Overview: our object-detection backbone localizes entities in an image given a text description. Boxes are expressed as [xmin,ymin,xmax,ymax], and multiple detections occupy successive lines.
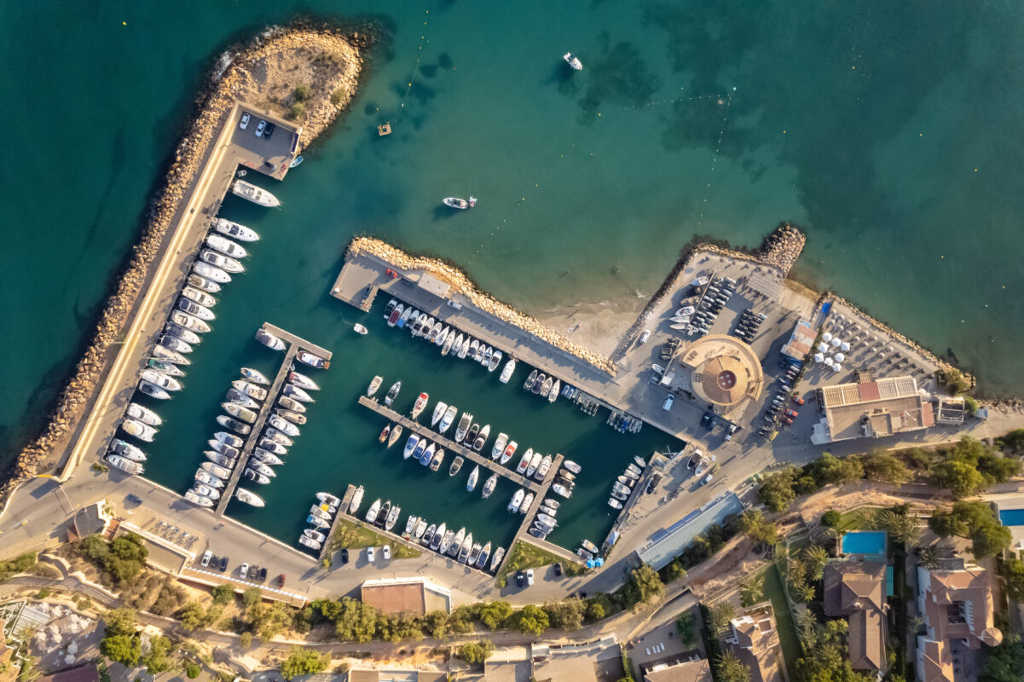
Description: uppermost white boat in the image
[562,51,582,69]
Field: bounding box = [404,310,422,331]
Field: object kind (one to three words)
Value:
boat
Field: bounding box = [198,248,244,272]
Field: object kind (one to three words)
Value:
boat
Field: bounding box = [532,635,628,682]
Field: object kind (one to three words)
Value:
building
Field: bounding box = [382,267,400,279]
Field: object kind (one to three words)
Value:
vehicle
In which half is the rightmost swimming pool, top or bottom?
bottom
